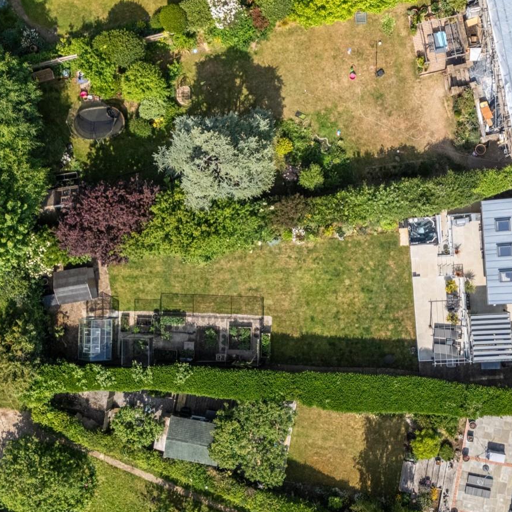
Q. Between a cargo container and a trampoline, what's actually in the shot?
trampoline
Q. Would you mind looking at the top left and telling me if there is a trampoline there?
Yes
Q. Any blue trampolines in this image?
No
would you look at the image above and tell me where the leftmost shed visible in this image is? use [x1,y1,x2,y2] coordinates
[54,267,98,305]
